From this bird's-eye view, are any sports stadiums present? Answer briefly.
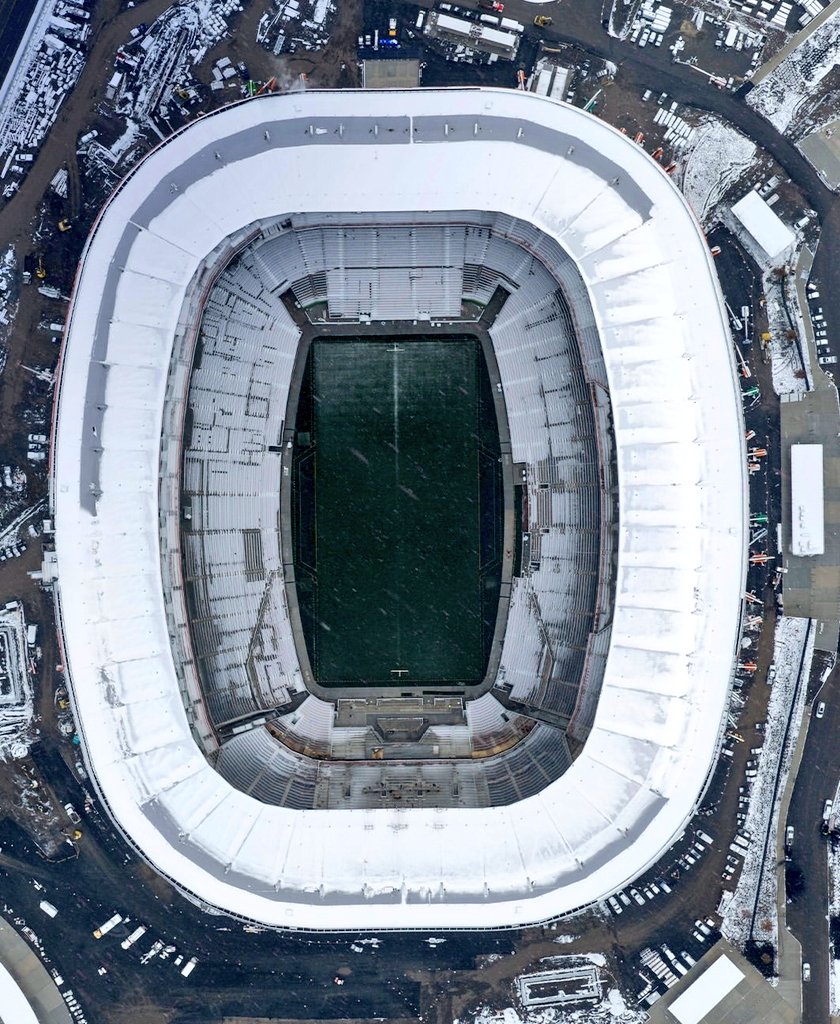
Yes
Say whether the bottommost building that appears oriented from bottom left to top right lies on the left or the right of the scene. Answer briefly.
right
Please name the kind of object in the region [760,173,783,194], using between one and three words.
truck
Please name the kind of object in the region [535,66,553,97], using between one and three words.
shed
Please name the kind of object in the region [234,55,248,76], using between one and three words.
vehicle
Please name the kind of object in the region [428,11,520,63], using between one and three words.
building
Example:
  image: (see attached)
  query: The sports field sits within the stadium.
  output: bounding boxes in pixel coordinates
[291,336,503,687]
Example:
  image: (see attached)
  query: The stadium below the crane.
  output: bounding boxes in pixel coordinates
[50,88,749,932]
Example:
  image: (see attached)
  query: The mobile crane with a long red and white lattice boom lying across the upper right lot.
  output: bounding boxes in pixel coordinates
[665,60,742,93]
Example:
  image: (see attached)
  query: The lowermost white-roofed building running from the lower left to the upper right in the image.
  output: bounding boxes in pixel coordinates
[667,954,745,1024]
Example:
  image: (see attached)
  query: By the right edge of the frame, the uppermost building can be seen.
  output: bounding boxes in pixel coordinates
[795,116,840,193]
